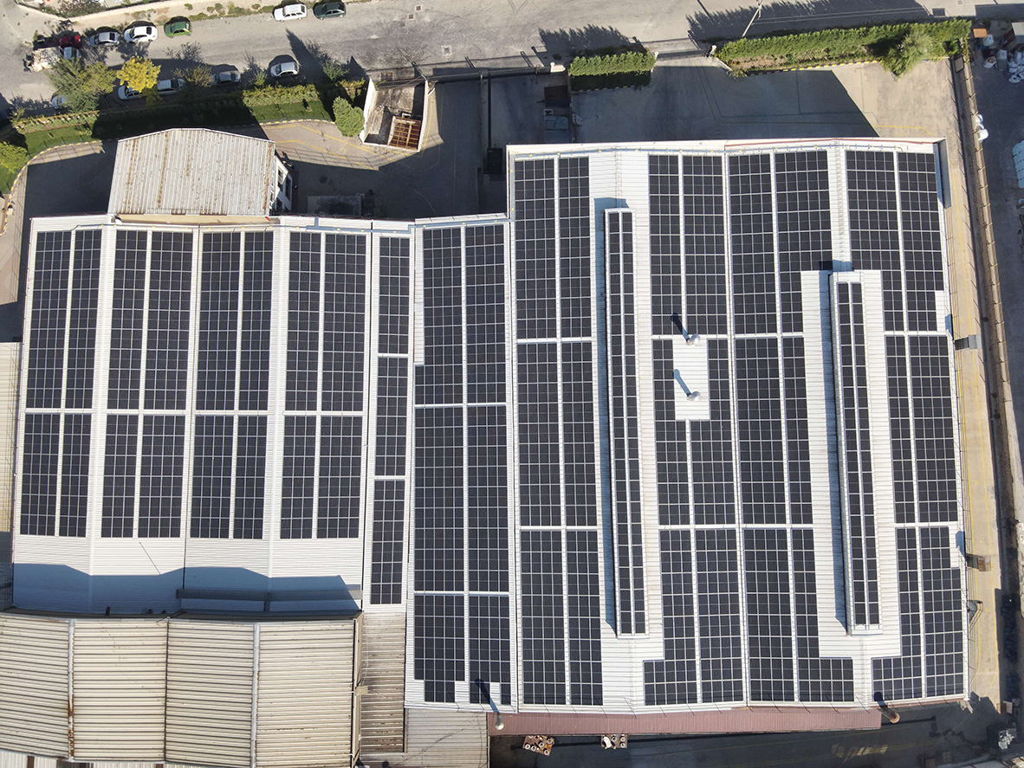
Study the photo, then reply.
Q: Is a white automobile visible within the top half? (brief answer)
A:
Yes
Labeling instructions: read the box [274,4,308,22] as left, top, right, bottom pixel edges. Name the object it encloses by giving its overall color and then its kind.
white car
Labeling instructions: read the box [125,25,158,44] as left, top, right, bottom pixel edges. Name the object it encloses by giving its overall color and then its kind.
white car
